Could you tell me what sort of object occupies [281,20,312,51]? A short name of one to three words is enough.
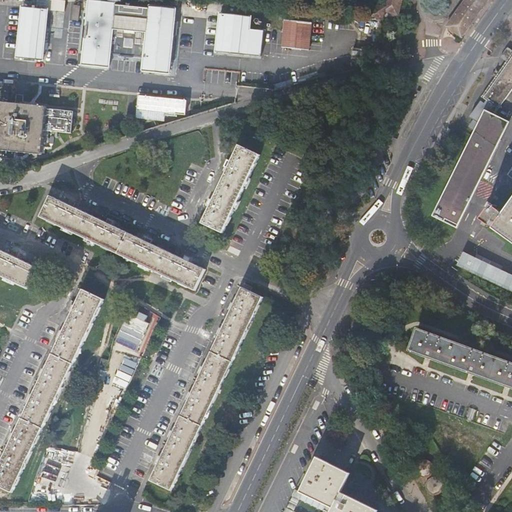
shed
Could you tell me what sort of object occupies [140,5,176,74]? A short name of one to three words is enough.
building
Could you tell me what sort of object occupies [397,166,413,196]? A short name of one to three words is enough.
vehicle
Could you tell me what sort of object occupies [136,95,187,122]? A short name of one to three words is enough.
building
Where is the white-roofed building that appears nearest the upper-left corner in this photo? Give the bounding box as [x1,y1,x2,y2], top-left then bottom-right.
[14,6,50,62]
